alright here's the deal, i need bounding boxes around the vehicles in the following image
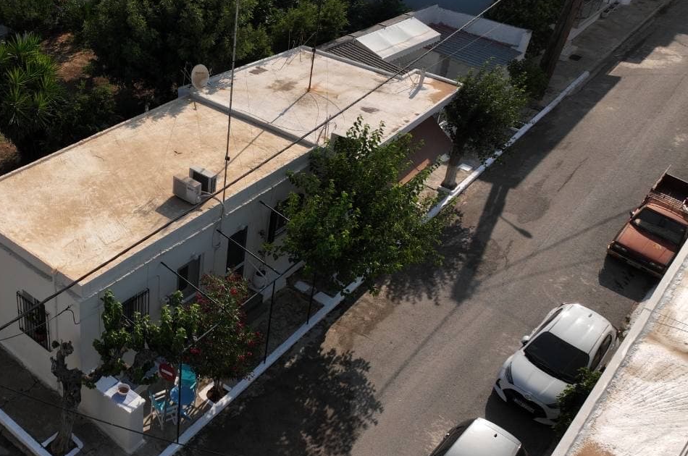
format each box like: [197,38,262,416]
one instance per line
[604,184,688,281]
[493,304,621,430]
[420,415,533,456]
